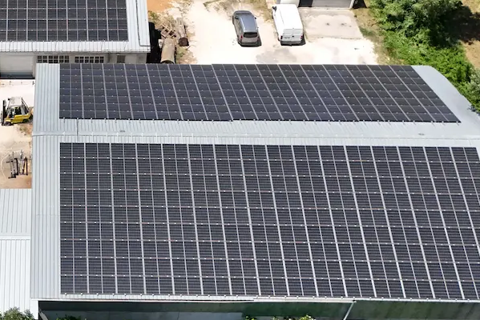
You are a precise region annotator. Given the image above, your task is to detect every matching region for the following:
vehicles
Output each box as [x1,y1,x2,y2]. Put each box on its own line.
[274,3,304,42]
[236,9,261,42]
[0,94,33,122]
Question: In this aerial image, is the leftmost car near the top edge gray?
Yes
